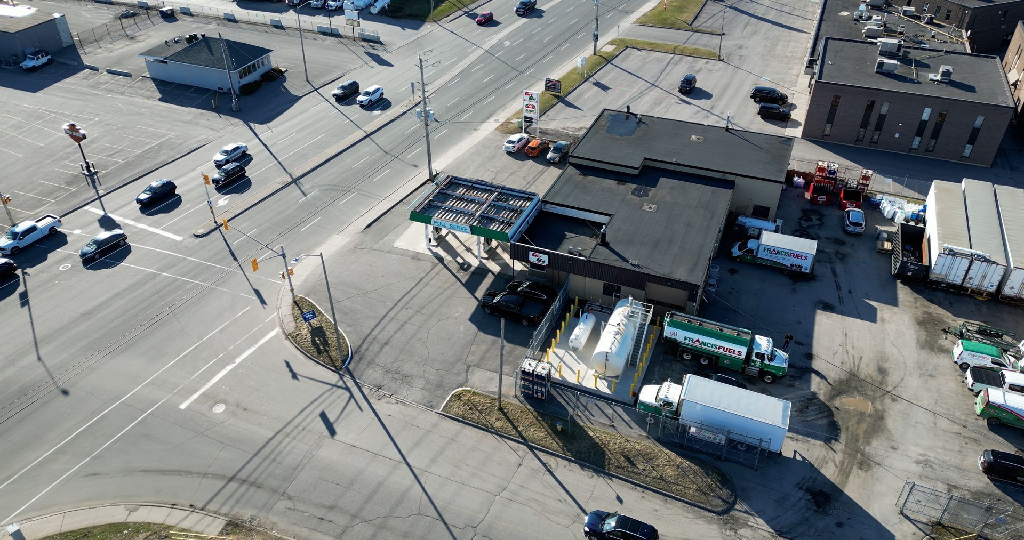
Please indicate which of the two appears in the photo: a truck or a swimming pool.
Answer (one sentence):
Of the two, only a truck appears.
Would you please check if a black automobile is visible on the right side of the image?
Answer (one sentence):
Yes, a black automobile shows up on the right side of the image.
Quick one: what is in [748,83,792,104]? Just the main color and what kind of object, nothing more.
black car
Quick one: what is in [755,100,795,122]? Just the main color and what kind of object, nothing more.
black car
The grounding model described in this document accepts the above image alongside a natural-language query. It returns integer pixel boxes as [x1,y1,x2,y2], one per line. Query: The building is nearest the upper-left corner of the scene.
[0,3,75,62]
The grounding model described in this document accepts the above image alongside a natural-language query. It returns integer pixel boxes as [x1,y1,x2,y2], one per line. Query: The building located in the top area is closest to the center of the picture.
[509,107,795,325]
